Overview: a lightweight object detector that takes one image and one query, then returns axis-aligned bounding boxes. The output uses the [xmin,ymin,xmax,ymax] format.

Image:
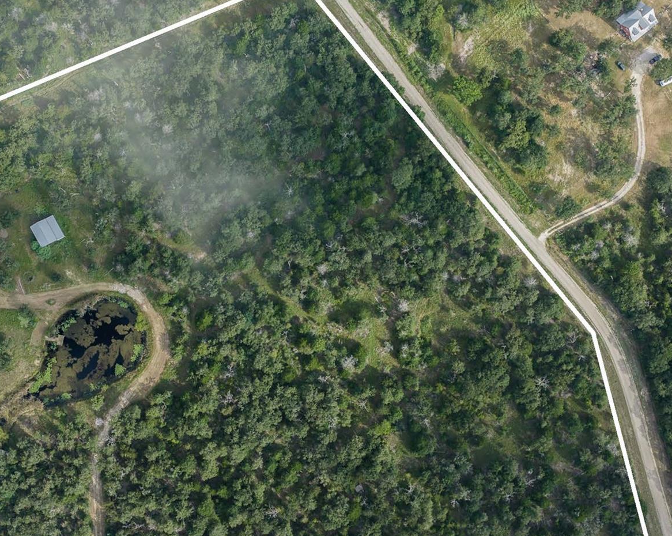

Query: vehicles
[660,77,672,86]
[649,52,664,63]
[617,59,628,71]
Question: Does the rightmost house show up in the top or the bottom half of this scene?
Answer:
top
